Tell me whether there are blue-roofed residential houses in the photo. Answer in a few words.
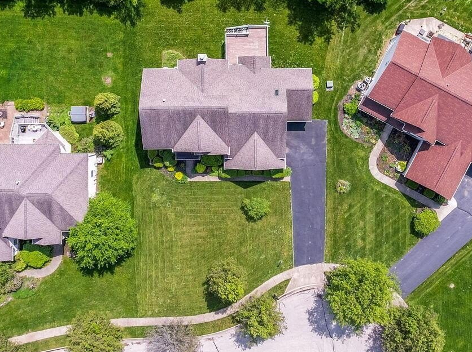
No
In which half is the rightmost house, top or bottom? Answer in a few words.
top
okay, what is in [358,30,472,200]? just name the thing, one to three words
house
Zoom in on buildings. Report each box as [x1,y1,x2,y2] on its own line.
[0,129,94,264]
[70,106,88,121]
[358,30,472,200]
[139,54,314,171]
